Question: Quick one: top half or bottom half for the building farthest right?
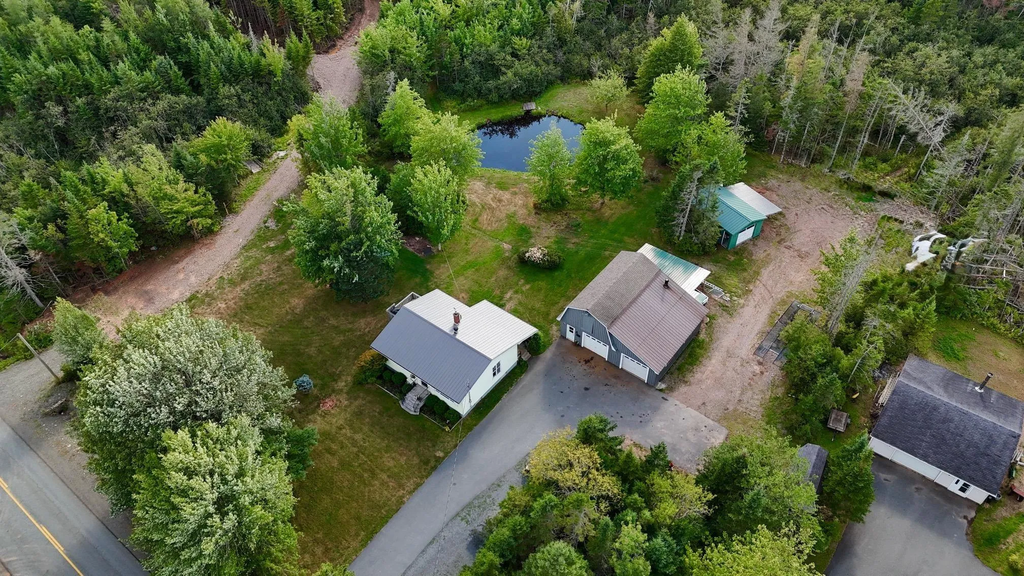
bottom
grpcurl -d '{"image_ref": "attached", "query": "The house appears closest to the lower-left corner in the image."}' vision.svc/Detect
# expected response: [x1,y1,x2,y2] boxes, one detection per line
[370,289,541,417]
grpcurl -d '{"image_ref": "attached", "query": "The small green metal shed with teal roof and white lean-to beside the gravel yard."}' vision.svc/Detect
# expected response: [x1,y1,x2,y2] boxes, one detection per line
[699,182,781,249]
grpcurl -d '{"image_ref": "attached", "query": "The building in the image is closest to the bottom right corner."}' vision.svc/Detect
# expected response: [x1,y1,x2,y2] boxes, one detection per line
[868,354,1024,503]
